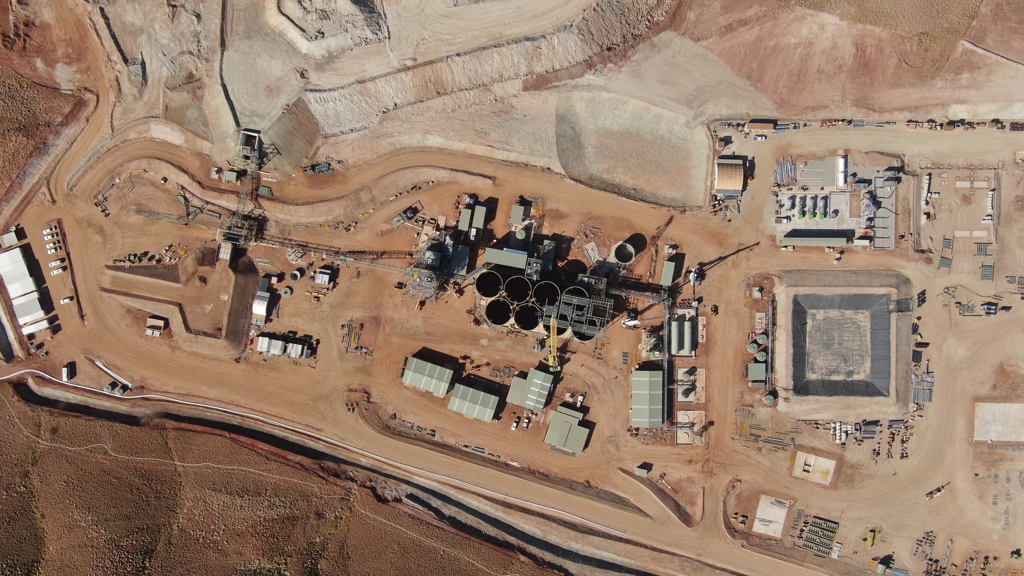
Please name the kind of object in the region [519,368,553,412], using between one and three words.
shed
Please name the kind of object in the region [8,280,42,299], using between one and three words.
building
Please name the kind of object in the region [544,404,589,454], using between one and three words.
building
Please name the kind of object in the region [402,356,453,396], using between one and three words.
shed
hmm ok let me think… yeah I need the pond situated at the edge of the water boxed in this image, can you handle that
[791,293,914,398]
